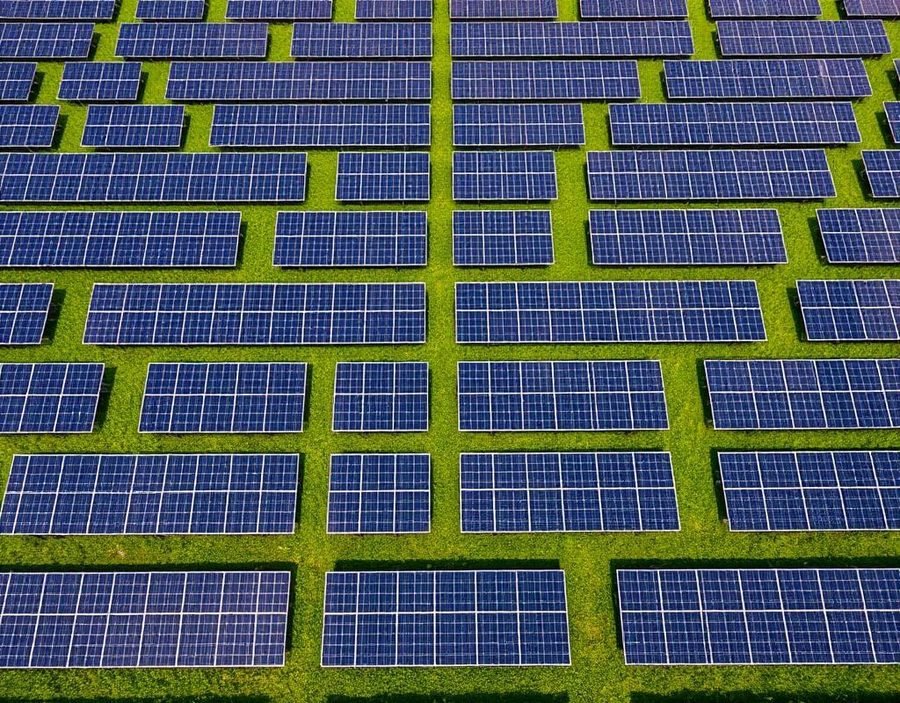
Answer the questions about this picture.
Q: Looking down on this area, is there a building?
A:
No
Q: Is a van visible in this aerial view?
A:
No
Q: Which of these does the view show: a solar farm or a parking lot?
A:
solar farm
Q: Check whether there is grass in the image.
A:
Yes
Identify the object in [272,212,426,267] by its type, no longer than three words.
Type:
solar array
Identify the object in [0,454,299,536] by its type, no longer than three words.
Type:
solar array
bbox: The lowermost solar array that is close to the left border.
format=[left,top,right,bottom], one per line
[0,571,290,669]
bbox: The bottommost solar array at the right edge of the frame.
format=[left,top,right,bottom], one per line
[617,567,900,664]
